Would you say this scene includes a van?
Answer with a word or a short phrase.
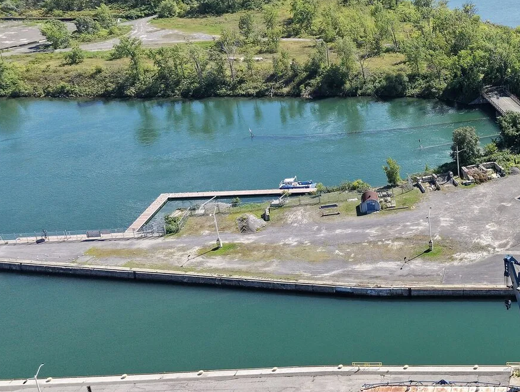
No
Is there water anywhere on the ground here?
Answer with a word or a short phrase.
Yes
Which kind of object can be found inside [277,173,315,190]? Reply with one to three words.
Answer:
boat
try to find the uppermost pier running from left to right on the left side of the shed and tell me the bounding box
[123,188,317,234]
